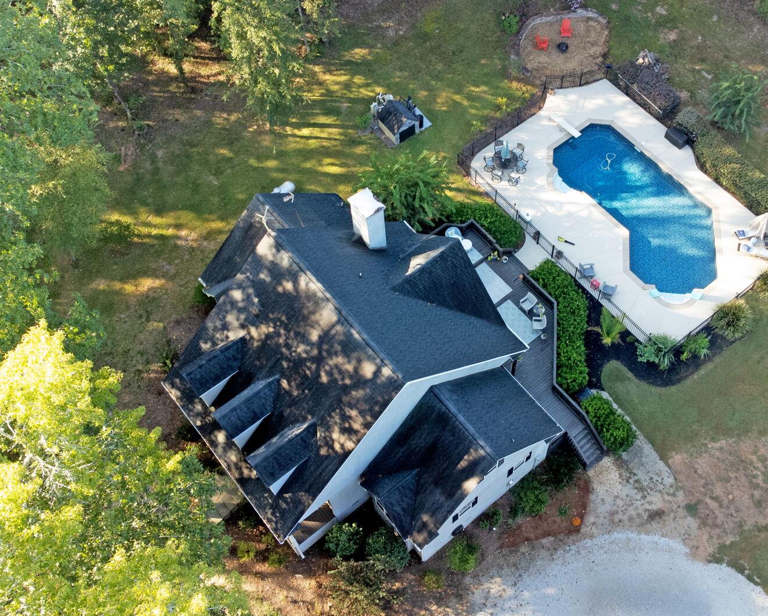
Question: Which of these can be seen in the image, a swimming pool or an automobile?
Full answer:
It is a swimming pool that can be seen here.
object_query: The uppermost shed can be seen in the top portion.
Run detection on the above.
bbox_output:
[374,97,421,144]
